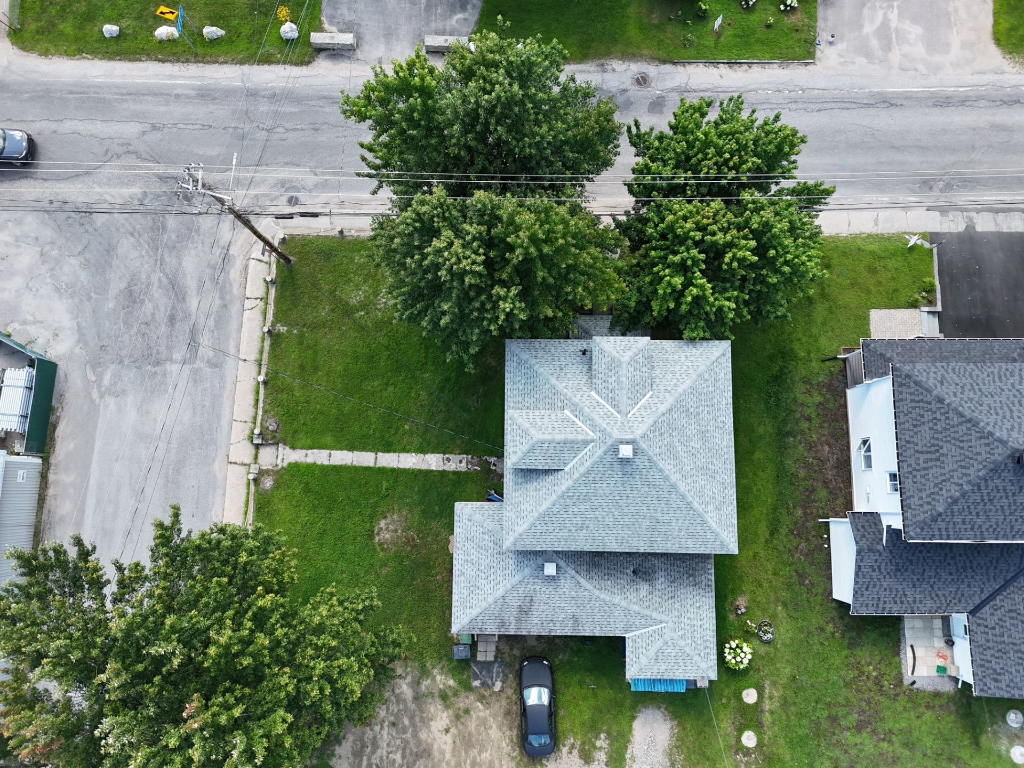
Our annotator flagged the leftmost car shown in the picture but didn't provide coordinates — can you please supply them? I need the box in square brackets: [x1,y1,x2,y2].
[0,122,40,170]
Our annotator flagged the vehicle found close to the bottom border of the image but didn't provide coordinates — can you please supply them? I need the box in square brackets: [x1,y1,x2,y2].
[514,654,561,760]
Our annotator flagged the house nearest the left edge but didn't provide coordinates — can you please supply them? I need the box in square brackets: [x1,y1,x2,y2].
[451,301,738,692]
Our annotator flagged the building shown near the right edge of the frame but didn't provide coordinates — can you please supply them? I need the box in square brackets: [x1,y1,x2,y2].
[810,333,1024,700]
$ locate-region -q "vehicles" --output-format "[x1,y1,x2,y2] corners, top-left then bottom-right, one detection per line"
[514,654,561,760]
[0,122,40,170]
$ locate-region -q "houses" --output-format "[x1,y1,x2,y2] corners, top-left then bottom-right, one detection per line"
[810,333,1024,700]
[451,301,738,692]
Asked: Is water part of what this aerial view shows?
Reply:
No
